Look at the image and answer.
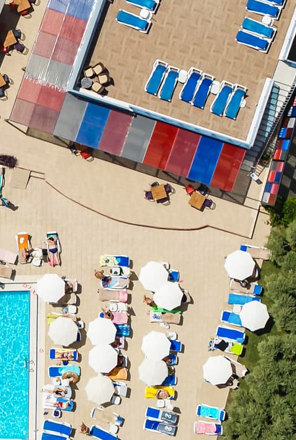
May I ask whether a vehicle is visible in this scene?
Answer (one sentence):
No, no vehicle is visible in the scene.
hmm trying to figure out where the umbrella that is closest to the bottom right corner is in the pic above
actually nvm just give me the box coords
[201,355,232,386]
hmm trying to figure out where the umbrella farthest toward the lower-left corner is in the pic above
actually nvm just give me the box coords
[83,373,113,403]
